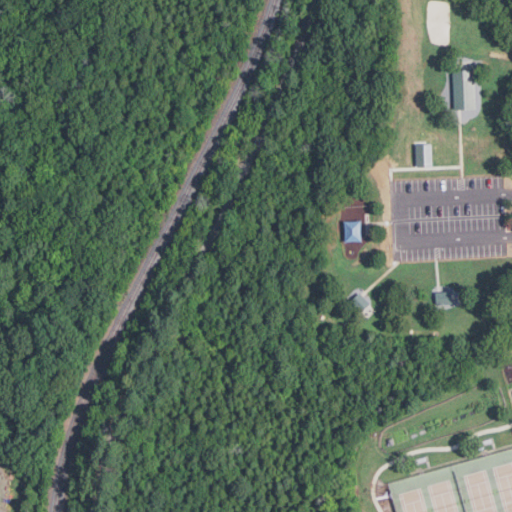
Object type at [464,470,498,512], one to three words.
tennis court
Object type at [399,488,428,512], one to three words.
tennis court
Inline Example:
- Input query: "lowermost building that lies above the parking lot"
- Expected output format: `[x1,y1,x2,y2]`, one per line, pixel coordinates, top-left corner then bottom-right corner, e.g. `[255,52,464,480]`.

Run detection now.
[416,144,432,168]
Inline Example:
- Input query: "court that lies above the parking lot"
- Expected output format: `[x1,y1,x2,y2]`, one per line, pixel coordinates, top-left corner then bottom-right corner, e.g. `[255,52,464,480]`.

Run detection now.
[427,0,450,47]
